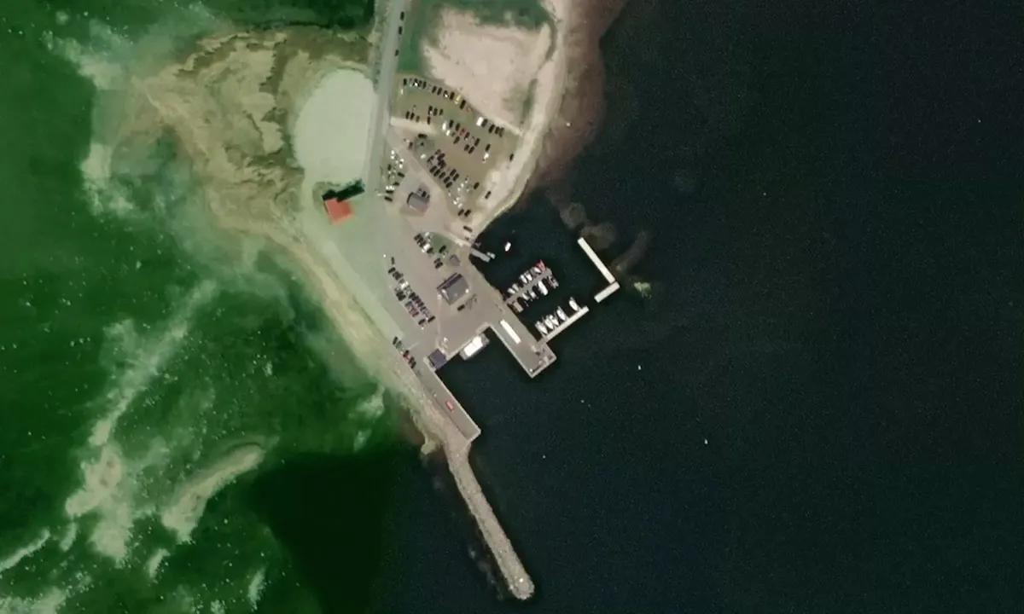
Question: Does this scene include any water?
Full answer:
Yes, some water is visible.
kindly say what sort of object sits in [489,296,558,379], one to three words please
pier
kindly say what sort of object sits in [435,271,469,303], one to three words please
building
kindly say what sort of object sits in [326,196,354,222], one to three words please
house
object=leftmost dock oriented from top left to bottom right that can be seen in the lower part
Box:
[419,362,482,444]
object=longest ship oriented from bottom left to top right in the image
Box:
[459,334,489,360]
